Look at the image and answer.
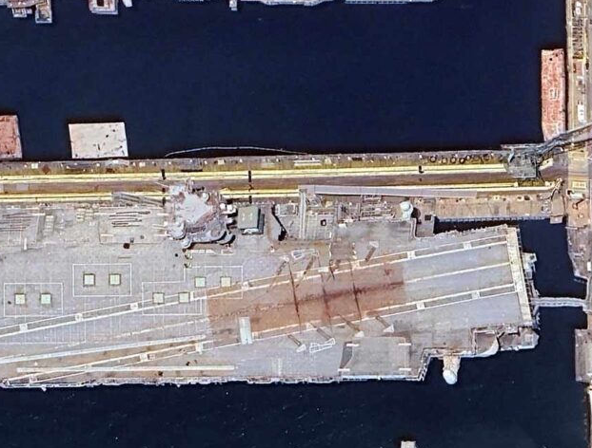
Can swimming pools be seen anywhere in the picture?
No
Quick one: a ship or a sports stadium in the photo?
ship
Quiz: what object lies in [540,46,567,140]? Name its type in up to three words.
ship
